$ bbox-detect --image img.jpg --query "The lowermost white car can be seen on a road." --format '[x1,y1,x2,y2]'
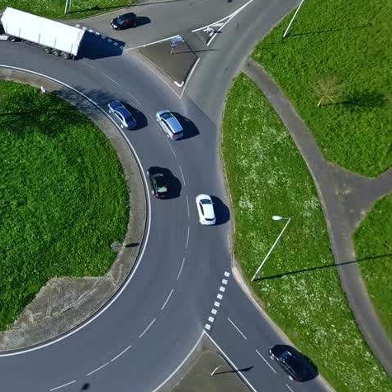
[196,194,216,226]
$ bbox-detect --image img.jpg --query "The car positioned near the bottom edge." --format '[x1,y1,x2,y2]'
[269,344,309,382]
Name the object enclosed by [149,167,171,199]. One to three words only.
car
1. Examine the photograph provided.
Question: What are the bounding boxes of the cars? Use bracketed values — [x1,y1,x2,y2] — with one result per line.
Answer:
[196,194,216,226]
[149,167,171,199]
[158,110,184,140]
[109,10,139,30]
[269,344,309,382]
[109,100,137,130]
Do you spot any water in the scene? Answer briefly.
No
